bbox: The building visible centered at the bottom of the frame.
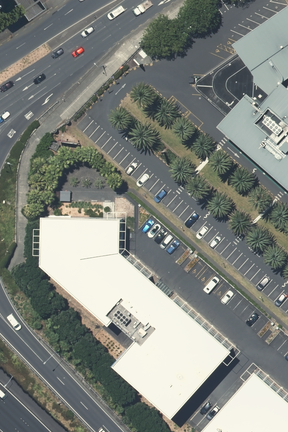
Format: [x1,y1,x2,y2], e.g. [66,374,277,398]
[33,212,240,419]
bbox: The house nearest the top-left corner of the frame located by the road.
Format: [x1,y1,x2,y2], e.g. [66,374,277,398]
[16,0,46,21]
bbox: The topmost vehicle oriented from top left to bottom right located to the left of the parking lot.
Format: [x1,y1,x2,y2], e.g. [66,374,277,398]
[6,313,21,329]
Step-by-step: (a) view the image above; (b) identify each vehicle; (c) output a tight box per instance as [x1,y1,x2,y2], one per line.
[148,224,160,237]
[136,172,150,186]
[106,5,126,20]
[71,46,85,58]
[153,228,168,242]
[206,405,220,420]
[246,314,259,326]
[133,0,154,16]
[0,388,7,400]
[274,292,288,306]
[221,289,235,304]
[256,276,270,290]
[166,239,180,253]
[126,161,138,174]
[50,47,64,58]
[32,73,46,84]
[196,224,210,239]
[81,26,95,37]
[6,313,21,329]
[209,234,222,248]
[202,276,220,294]
[0,80,14,92]
[160,232,174,248]
[0,110,12,123]
[199,400,213,414]
[184,212,199,227]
